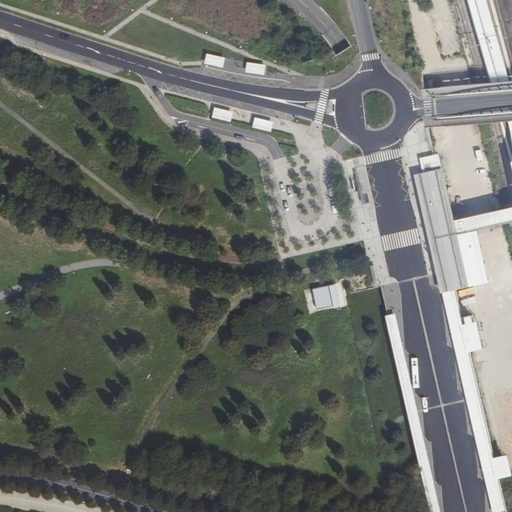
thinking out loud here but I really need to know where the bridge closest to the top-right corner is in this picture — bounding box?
[424,81,512,128]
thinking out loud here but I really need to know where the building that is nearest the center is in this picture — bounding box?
[304,280,348,314]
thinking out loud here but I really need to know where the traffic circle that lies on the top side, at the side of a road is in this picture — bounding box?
[324,62,424,165]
